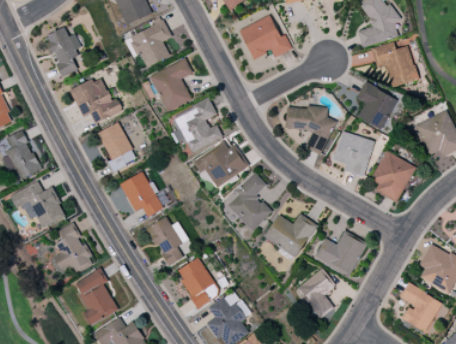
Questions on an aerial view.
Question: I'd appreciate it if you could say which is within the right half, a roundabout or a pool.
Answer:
pool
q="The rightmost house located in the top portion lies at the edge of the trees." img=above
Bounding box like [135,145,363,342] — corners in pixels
[416,110,456,160]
